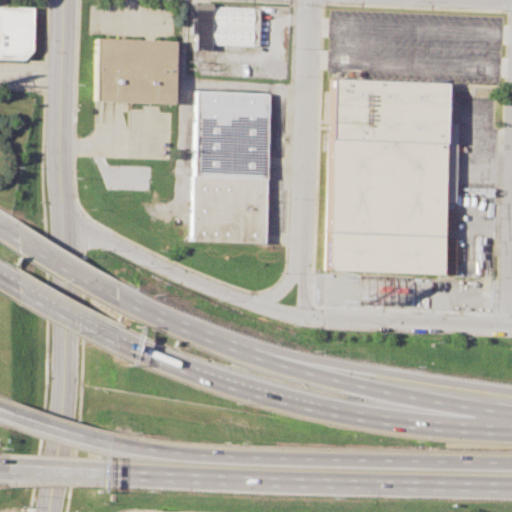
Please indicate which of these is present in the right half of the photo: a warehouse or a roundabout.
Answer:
warehouse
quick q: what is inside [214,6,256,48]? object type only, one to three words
building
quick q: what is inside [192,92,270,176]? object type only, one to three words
building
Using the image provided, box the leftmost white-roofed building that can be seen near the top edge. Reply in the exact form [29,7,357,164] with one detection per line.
[0,6,36,62]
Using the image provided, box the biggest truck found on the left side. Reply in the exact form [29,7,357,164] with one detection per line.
[142,346,185,369]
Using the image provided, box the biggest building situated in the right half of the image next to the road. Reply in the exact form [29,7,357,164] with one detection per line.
[322,81,453,274]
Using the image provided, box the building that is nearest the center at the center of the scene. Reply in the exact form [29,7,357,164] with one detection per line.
[191,176,268,243]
